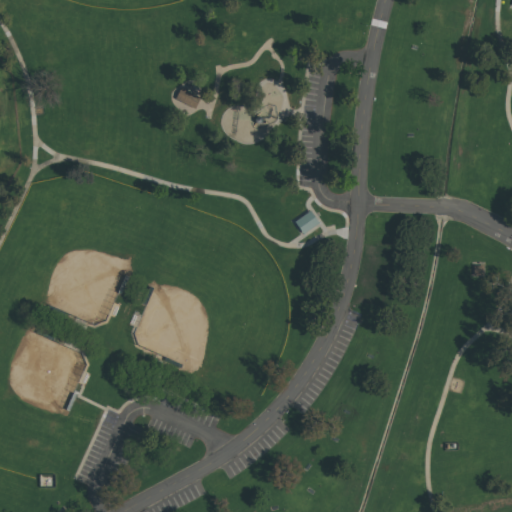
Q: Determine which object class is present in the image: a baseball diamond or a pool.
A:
baseball diamond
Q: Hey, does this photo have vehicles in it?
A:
No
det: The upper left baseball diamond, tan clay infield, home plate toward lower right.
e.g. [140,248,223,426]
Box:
[0,174,150,324]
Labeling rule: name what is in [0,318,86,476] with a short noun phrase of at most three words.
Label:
baseball field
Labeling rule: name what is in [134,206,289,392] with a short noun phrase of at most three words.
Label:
baseball field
